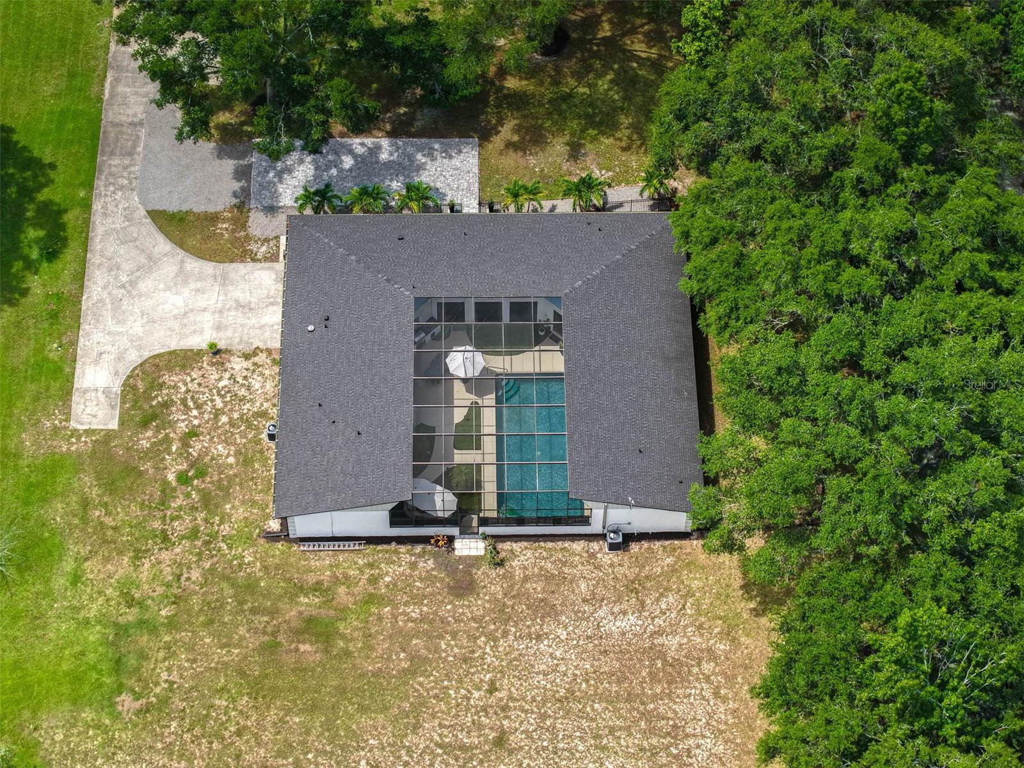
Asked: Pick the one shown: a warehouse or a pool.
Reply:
pool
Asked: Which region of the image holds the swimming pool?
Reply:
center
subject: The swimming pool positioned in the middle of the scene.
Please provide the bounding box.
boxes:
[496,373,584,516]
